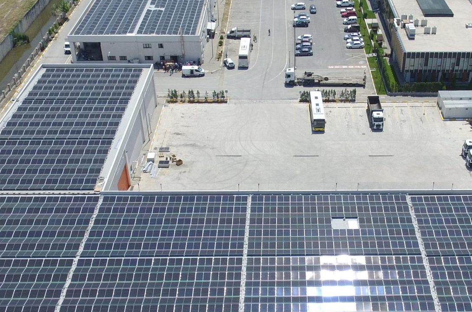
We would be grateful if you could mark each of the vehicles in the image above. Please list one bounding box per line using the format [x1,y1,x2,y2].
[341,15,359,24]
[239,39,252,65]
[308,89,324,126]
[284,71,366,90]
[336,0,354,6]
[343,23,361,31]
[294,12,310,18]
[291,1,307,9]
[367,98,386,128]
[309,5,316,13]
[346,36,364,43]
[178,63,206,76]
[295,42,313,50]
[296,38,313,44]
[293,21,309,27]
[224,59,235,69]
[228,26,250,38]
[297,33,313,40]
[294,48,313,56]
[346,41,365,49]
[341,10,356,17]
[59,37,71,54]
[343,31,362,38]
[294,16,311,23]
[339,6,355,12]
